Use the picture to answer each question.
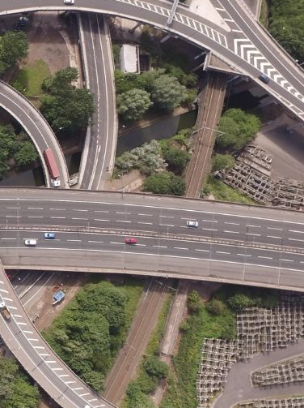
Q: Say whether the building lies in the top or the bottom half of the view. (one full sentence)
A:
The top half of the photo is where the building is.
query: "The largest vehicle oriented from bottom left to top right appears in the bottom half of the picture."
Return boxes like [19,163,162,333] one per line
[49,289,65,307]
